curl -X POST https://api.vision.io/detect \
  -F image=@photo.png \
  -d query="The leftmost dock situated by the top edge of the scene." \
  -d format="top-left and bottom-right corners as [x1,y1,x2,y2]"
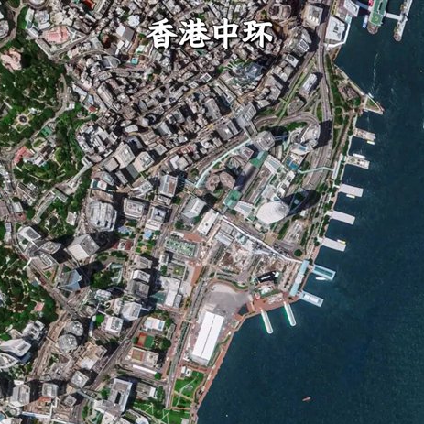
[367,0,388,34]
